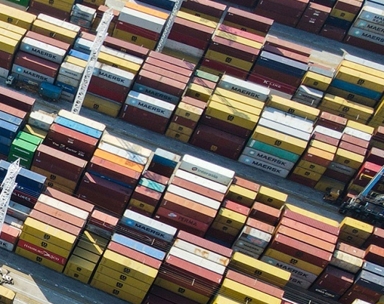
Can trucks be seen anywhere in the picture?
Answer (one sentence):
Yes, this view includes a truck.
